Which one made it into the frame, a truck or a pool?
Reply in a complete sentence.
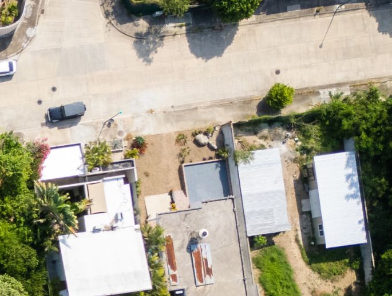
The one in the frame is a pool.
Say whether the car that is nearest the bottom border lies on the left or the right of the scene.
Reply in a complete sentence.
You can find the car that is nearest the bottom border on the left side of the picture.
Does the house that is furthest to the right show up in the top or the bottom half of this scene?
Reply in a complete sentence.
You can find the house that is furthest to the right in the bottom half.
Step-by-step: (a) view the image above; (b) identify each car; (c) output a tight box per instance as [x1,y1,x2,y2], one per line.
[0,60,17,77]
[47,101,88,124]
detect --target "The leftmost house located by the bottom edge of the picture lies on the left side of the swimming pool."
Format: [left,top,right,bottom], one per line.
[54,179,152,296]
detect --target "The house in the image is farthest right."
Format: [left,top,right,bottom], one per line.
[299,151,365,248]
